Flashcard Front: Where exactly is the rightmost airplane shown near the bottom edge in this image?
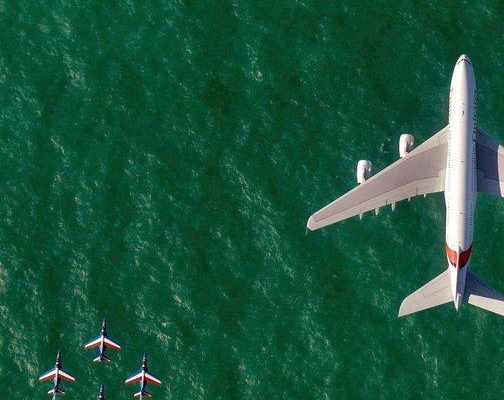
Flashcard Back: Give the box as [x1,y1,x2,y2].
[125,352,162,397]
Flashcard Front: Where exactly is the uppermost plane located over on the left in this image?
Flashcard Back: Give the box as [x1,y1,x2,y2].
[85,319,121,362]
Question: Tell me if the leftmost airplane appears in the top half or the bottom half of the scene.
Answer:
bottom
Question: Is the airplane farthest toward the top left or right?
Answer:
right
